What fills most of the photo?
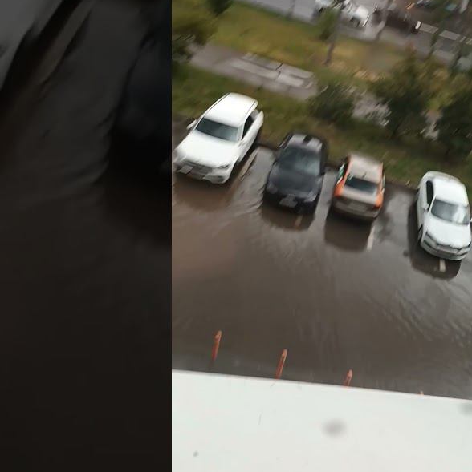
paved ground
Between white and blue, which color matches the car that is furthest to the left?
white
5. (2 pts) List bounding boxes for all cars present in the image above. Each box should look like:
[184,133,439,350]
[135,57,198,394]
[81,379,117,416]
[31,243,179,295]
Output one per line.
[264,127,335,212]
[407,167,472,259]
[371,2,427,38]
[174,90,259,180]
[329,148,393,224]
